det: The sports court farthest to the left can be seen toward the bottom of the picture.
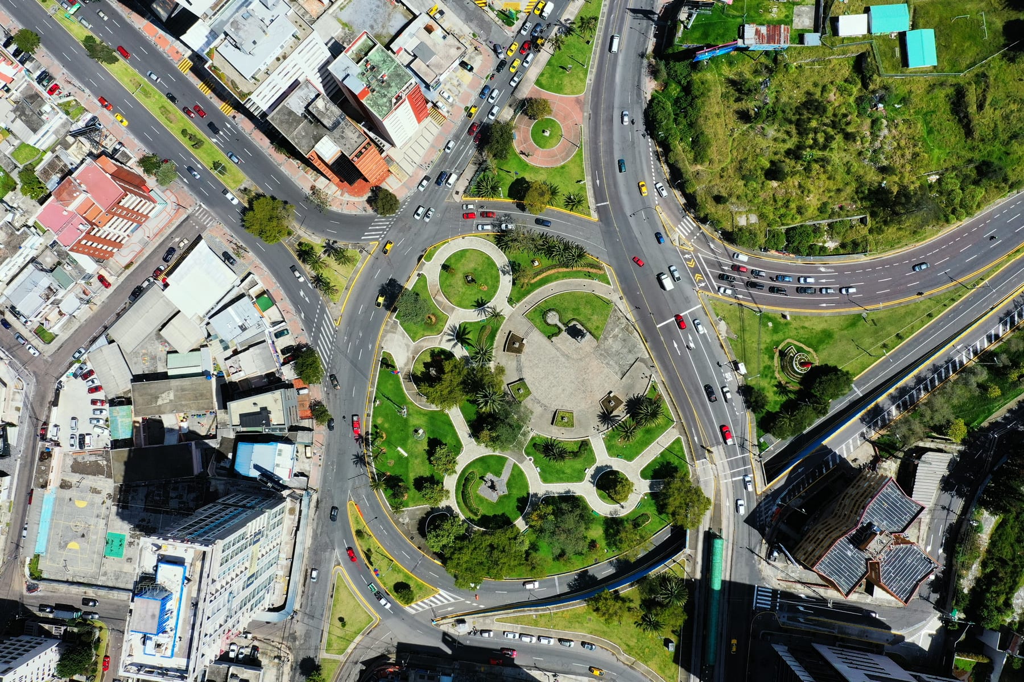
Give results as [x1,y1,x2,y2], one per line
[39,451,112,579]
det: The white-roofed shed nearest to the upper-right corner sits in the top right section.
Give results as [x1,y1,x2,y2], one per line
[835,13,868,39]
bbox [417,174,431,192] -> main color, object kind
white vehicle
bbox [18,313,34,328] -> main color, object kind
white car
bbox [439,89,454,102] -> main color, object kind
white vehicle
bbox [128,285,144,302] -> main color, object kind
black vehicle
